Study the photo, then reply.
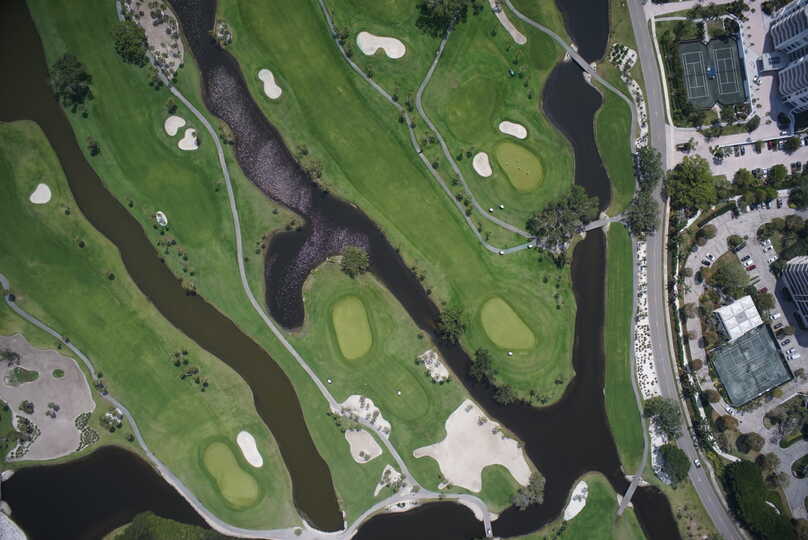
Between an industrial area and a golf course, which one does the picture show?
golf course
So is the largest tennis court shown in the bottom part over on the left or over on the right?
right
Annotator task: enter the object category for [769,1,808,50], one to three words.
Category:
building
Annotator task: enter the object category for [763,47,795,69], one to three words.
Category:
building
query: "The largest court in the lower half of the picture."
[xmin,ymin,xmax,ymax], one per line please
[713,326,792,406]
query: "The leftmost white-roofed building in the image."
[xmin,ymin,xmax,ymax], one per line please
[712,294,763,339]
